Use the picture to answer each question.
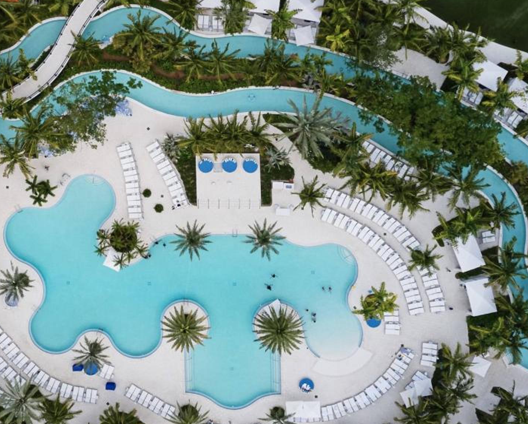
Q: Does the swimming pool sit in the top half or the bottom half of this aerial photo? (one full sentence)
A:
The bottom half of the photo is where the swimming pool is.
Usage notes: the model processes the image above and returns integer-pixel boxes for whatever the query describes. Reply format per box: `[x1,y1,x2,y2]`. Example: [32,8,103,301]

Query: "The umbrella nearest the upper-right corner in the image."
[293,24,315,47]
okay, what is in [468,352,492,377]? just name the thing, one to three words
umbrella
